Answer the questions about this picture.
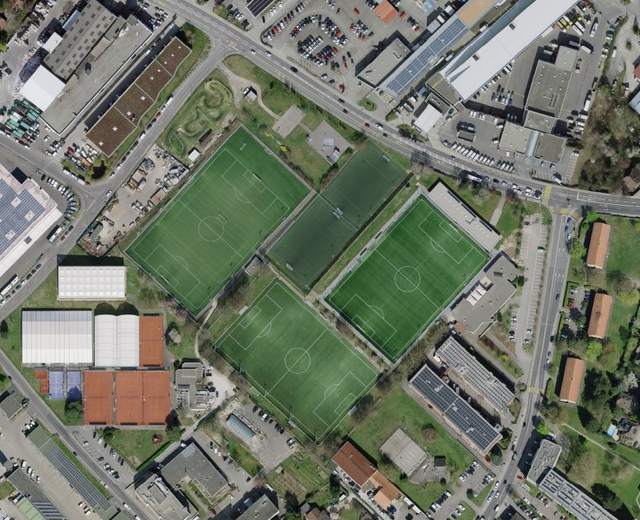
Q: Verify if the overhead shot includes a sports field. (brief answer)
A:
Yes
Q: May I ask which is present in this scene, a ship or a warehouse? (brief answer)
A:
warehouse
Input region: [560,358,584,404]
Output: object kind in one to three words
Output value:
house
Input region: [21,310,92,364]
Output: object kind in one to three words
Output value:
building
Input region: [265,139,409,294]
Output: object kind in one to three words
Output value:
sports field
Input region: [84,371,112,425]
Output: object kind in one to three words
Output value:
tennis court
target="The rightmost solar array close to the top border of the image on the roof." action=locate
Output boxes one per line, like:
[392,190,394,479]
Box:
[387,19,462,91]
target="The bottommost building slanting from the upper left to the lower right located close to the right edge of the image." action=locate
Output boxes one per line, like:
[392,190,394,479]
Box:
[539,470,618,520]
